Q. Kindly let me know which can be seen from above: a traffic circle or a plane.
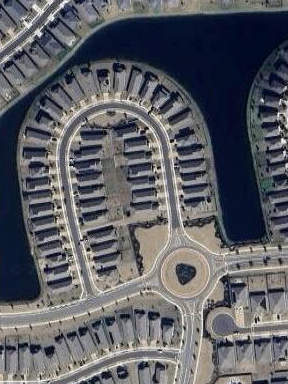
traffic circle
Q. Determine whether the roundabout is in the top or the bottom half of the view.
bottom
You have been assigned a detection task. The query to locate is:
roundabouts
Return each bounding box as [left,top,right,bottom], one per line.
[154,240,216,305]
